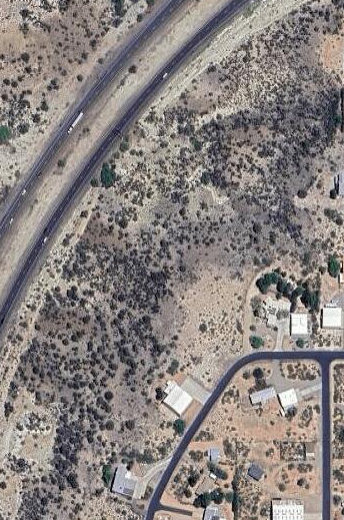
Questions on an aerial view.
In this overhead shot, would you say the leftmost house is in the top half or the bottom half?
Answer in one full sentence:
The leftmost house is in the bottom half of the image.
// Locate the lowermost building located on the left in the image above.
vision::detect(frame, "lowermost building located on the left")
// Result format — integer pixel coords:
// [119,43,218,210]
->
[112,464,138,496]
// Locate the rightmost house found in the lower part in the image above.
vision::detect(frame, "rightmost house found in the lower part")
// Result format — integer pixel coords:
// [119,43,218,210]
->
[323,307,342,328]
